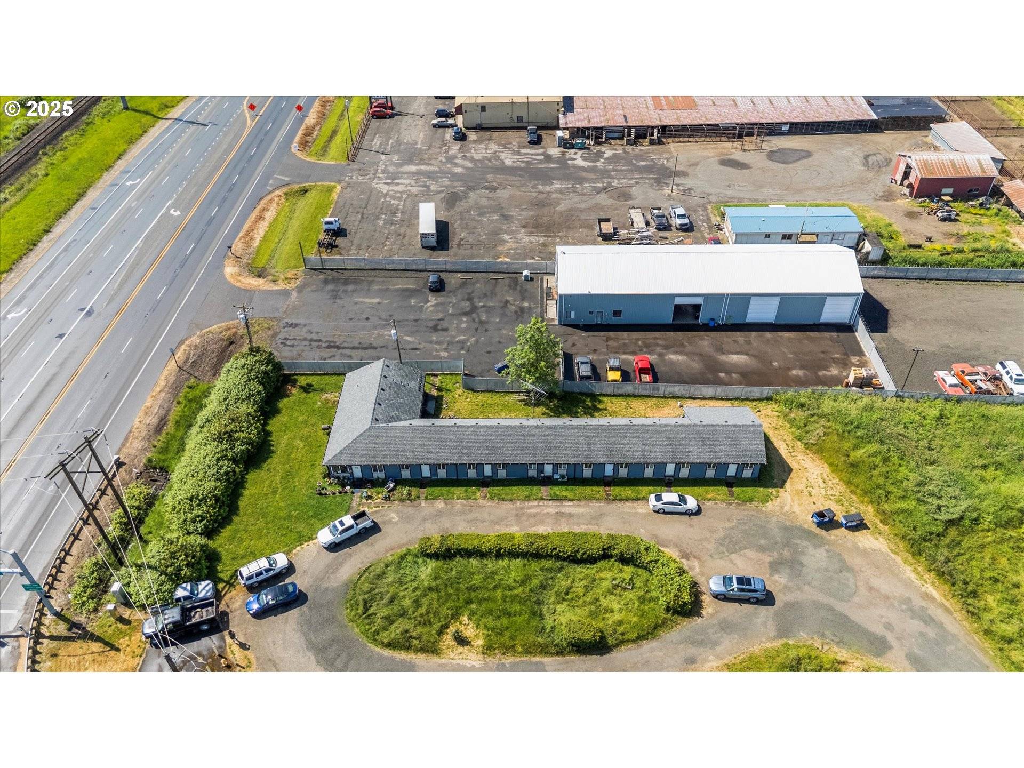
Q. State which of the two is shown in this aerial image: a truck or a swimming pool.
truck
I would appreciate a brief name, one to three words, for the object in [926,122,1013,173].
shed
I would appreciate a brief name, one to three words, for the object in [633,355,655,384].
truck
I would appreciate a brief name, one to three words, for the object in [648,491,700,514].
car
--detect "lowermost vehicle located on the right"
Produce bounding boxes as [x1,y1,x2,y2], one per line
[709,572,768,603]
